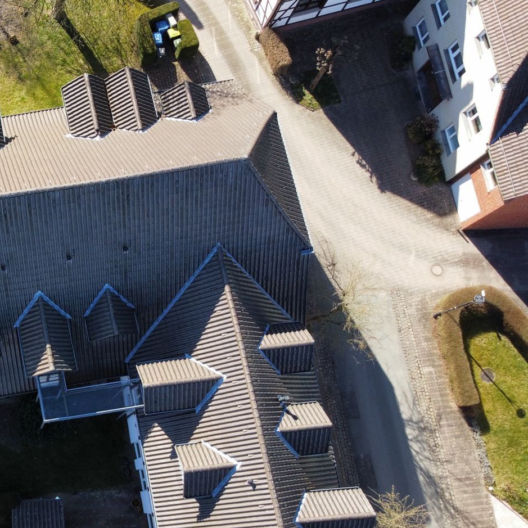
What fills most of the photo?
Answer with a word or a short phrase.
buildings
